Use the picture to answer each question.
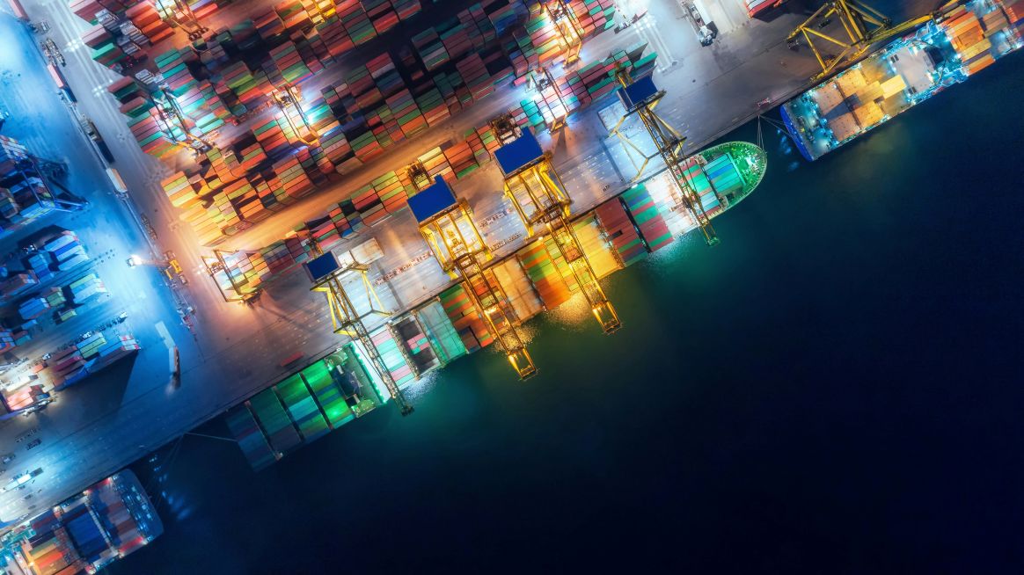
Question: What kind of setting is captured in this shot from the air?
port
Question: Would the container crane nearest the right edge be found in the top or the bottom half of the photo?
top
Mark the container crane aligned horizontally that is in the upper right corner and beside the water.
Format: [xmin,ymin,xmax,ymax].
[781,0,949,86]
